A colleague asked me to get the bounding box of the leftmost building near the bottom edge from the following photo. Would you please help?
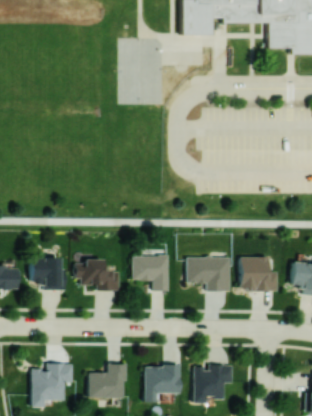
[30,364,74,408]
